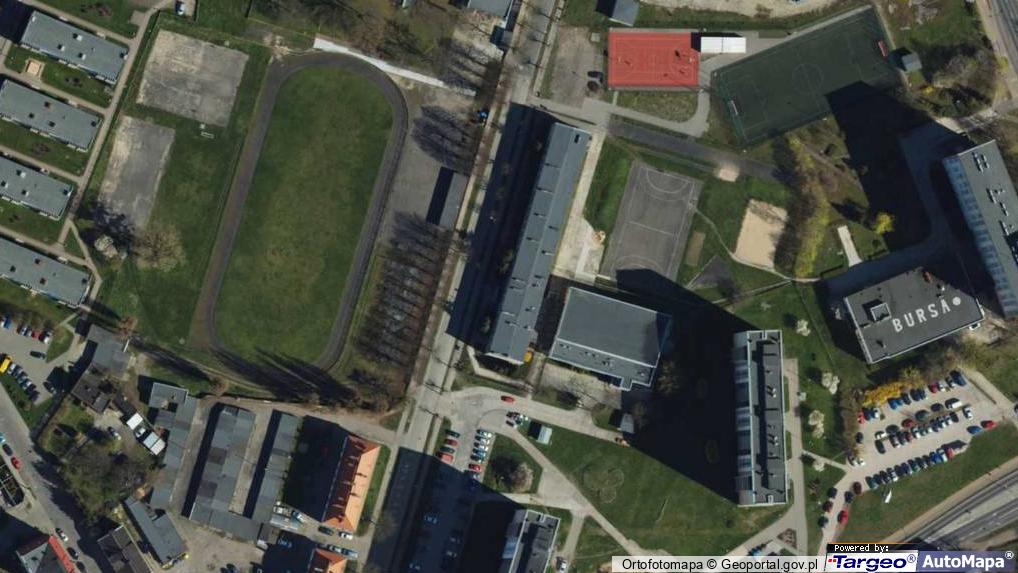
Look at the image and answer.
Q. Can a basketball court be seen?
Yes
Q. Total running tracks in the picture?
2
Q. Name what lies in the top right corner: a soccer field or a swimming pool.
soccer field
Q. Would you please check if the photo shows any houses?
Yes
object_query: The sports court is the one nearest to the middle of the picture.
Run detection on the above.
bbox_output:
[600,161,703,286]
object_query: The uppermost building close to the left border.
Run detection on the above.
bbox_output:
[20,11,128,83]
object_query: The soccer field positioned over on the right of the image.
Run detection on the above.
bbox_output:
[709,4,912,143]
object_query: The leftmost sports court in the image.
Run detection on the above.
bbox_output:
[97,116,173,229]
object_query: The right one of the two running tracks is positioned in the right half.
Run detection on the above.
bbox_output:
[606,120,789,184]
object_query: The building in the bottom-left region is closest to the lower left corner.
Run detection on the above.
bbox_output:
[15,533,77,573]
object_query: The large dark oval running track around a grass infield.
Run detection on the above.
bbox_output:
[190,51,407,383]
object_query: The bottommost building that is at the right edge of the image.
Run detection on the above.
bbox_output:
[842,267,984,362]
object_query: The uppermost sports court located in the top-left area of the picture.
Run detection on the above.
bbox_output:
[138,32,249,124]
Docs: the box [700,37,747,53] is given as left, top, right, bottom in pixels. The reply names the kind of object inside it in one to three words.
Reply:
building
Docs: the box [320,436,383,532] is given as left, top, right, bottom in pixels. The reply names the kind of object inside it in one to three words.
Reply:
house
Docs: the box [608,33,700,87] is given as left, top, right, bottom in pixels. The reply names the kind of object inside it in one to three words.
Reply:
basketball court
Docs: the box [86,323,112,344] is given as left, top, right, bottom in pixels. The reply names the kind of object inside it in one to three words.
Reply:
shed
